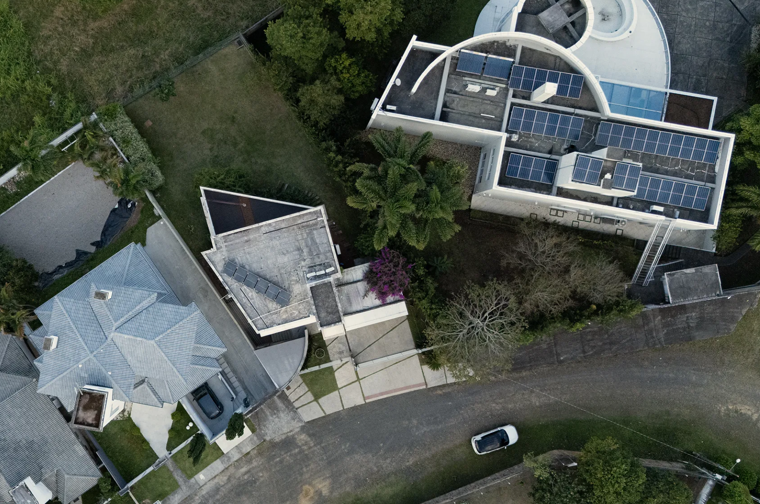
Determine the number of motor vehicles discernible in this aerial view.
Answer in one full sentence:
The count of motor vehicles comes to 2.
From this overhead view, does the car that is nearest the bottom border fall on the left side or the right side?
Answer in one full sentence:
The car that is nearest the bottom border sits on the right side.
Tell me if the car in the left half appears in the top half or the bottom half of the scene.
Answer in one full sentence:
Seen from above, the car in the left half lies in the bottom half of the view.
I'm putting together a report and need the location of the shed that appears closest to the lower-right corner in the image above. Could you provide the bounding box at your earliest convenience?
[653,265,723,304]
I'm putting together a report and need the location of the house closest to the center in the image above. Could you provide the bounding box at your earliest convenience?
[198,186,408,340]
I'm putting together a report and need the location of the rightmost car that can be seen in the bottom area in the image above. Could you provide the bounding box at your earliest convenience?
[470,423,520,457]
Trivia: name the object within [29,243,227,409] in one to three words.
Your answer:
house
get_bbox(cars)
[470,423,520,457]
[192,380,227,427]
